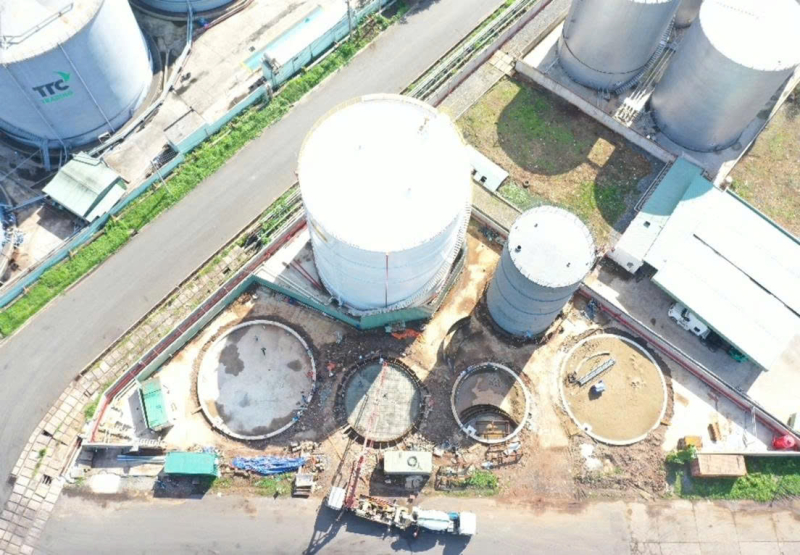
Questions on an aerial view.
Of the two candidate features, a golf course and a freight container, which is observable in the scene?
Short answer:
freight container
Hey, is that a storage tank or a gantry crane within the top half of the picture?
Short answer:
storage tank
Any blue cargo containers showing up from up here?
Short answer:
No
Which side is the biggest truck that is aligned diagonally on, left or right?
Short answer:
right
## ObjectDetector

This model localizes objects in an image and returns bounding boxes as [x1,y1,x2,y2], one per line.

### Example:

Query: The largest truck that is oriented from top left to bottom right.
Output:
[666,306,726,357]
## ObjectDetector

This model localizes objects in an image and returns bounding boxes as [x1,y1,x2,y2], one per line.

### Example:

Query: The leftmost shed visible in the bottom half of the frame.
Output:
[135,375,174,431]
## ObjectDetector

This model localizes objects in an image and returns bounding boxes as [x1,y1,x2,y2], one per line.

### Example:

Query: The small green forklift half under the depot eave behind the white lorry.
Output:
[723,347,747,366]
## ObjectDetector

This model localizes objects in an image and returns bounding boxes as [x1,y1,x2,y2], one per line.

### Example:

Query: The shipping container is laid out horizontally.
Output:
[384,453,434,478]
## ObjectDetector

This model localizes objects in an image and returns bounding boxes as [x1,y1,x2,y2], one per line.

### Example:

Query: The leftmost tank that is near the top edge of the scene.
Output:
[0,0,166,151]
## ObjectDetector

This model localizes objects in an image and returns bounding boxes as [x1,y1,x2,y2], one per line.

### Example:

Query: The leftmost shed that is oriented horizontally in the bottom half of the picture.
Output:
[164,451,224,480]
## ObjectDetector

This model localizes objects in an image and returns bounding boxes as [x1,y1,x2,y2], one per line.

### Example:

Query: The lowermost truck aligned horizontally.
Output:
[402,505,477,536]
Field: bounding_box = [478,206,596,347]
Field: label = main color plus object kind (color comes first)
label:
white storage tank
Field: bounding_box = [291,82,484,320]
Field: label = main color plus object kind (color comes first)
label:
white storage tank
